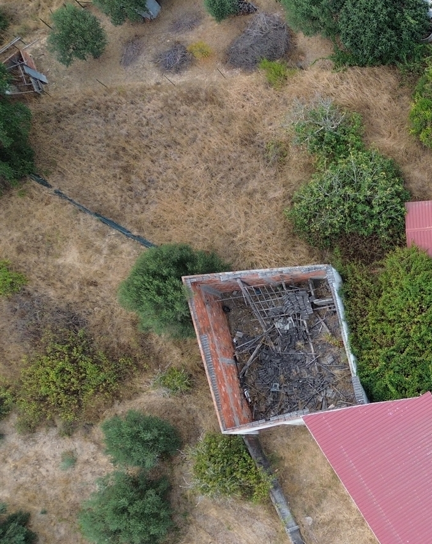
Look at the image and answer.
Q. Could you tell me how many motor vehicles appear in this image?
zero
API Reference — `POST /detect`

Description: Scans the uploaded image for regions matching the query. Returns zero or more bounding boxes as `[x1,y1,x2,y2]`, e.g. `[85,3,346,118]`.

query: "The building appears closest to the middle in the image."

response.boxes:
[183,266,377,434]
